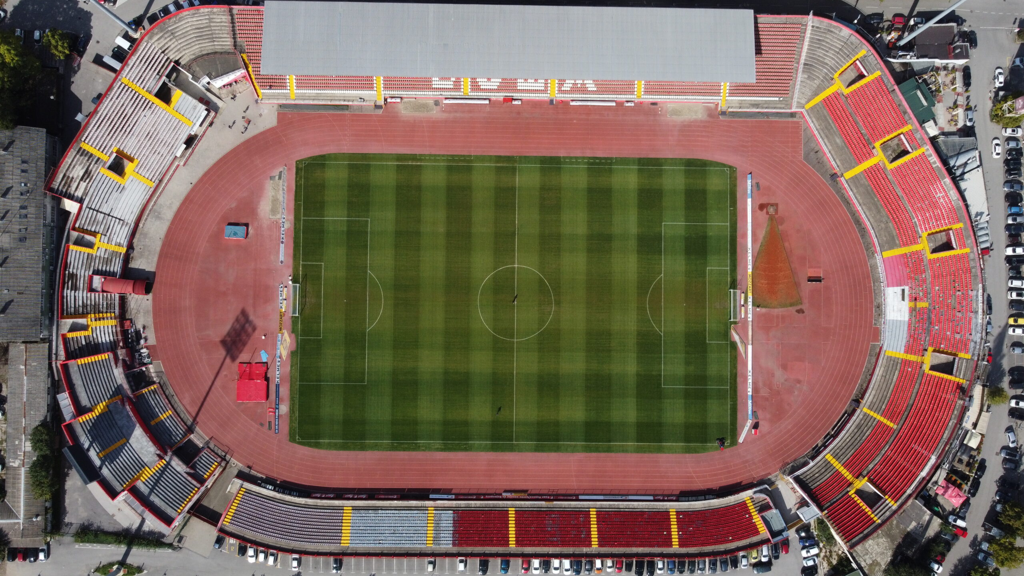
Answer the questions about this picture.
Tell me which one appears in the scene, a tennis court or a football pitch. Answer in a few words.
football pitch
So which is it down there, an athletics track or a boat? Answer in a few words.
athletics track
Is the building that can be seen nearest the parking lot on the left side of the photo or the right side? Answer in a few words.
right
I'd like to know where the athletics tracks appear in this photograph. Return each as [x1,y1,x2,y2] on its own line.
[145,99,877,497]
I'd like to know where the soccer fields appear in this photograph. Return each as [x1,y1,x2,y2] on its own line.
[289,153,738,454]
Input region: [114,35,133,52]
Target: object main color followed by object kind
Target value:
white vehicle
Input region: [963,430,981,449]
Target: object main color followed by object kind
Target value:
white umbrella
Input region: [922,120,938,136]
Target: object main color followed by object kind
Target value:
white umbrella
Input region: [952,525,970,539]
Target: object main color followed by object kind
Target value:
red car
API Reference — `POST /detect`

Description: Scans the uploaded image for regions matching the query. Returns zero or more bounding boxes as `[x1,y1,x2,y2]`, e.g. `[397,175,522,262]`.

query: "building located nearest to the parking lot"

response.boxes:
[757,503,788,542]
